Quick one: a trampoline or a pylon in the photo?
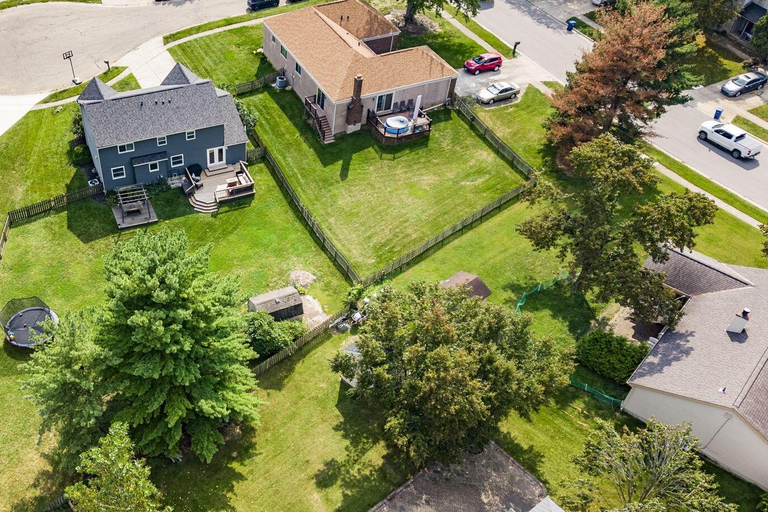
trampoline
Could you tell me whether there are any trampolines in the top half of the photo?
No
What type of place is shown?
residential area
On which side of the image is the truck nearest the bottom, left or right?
right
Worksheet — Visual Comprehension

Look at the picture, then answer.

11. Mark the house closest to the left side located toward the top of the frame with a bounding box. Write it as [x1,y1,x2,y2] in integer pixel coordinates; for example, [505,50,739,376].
[74,62,249,193]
